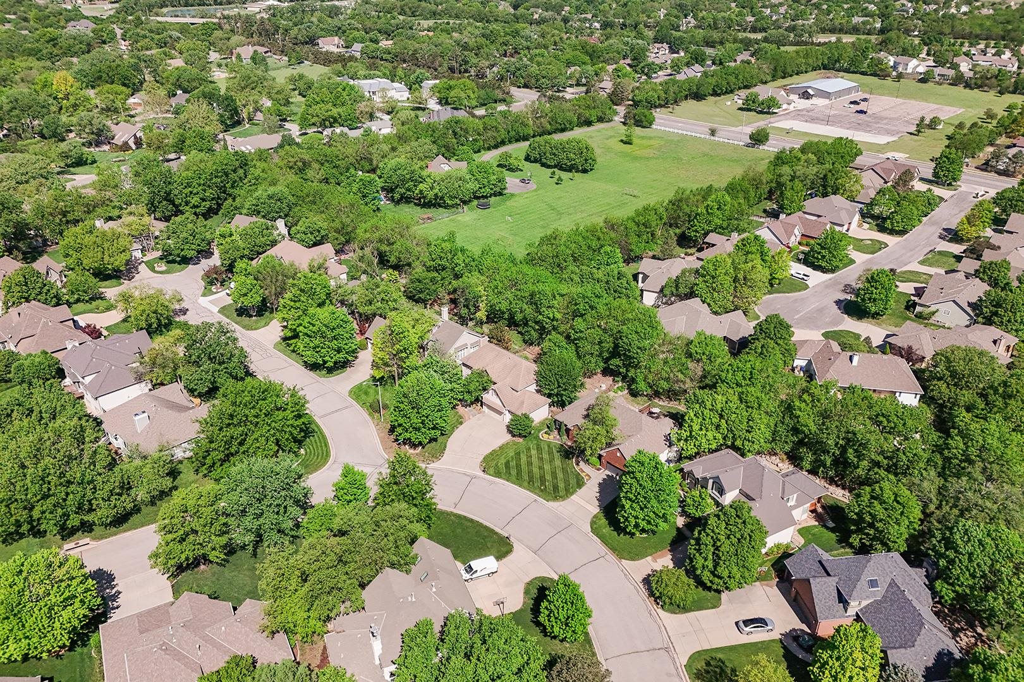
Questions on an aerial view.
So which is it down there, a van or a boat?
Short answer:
van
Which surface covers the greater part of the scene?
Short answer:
trees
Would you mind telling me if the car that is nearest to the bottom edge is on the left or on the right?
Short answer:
right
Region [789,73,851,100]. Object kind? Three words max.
building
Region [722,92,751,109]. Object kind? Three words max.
house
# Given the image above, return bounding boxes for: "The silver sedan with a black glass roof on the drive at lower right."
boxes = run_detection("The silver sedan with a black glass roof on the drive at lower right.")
[738,614,779,634]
